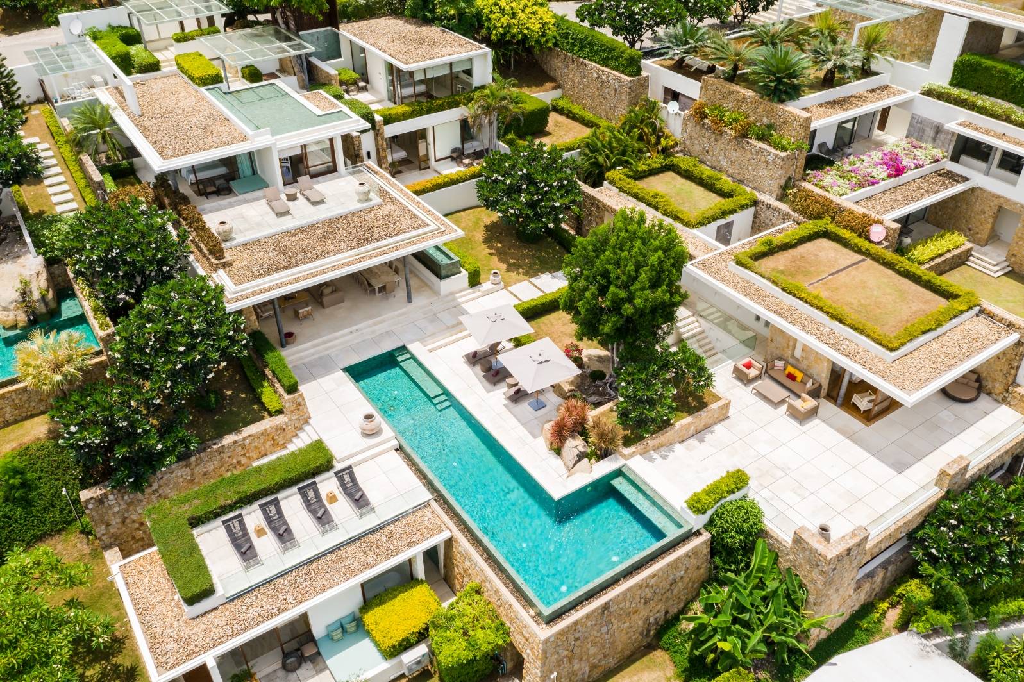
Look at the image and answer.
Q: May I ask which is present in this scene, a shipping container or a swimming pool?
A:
swimming pool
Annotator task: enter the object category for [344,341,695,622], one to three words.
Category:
swimming pool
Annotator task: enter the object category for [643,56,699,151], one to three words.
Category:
shed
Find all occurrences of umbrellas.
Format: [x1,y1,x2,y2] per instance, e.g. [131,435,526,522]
[494,340,582,410]
[454,305,536,369]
